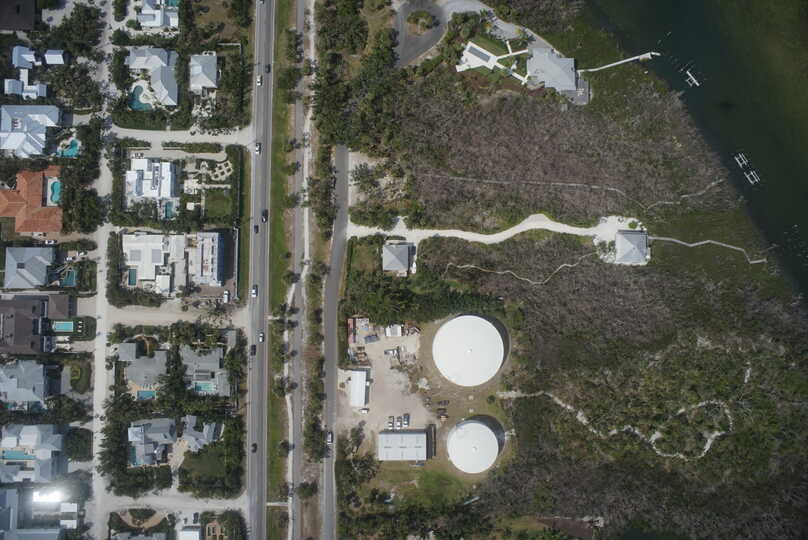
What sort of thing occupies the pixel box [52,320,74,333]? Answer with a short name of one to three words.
swimming pool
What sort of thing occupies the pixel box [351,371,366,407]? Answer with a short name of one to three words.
shed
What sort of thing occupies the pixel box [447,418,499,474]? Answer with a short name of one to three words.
storage tank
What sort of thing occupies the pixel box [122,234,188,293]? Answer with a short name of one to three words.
house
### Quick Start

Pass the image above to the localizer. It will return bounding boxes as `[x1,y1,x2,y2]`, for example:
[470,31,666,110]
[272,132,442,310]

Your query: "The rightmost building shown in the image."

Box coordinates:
[613,231,649,264]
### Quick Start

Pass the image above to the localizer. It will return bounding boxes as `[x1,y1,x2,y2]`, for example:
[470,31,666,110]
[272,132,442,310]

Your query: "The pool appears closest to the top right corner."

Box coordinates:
[456,41,529,84]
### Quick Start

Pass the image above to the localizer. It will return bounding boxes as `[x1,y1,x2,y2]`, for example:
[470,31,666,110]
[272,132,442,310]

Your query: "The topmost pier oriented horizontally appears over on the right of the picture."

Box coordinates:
[578,51,662,73]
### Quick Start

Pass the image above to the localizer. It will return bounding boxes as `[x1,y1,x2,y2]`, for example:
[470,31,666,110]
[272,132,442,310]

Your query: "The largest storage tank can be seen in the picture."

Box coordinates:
[432,314,504,387]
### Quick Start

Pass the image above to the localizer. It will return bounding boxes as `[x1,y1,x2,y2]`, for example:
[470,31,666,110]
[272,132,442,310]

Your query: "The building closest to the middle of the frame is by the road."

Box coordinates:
[383,243,409,275]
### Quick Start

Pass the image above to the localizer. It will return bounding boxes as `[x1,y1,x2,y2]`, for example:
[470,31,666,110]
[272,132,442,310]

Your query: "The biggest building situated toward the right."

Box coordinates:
[528,47,588,103]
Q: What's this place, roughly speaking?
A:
residential area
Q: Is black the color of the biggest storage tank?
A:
No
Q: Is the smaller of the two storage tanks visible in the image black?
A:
No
